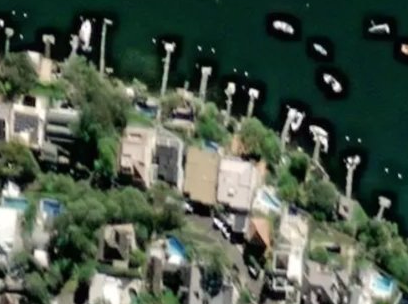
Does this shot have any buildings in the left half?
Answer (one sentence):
Yes, the scene does show a building in the left half.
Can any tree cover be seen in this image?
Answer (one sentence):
Yes, there's tree cover in this view.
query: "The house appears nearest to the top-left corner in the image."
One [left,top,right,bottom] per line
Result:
[26,52,52,83]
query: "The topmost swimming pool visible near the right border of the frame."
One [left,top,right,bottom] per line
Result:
[370,270,396,294]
